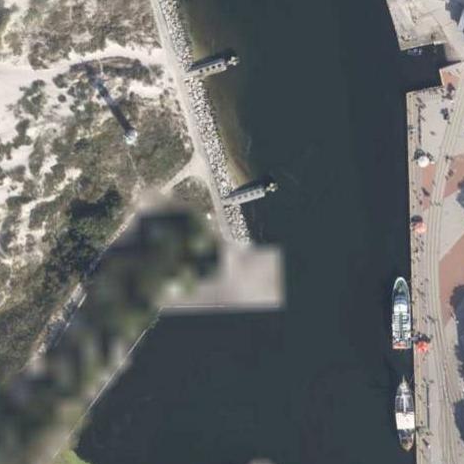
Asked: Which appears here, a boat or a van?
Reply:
boat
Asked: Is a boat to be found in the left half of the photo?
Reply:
No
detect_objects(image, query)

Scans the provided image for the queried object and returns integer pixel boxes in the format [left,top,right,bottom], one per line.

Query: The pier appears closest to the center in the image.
[223,188,267,208]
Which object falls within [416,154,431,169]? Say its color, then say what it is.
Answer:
white umbrella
